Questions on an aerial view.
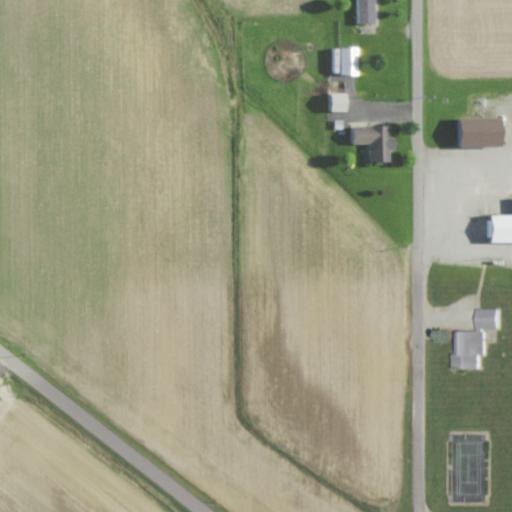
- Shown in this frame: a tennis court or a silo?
tennis court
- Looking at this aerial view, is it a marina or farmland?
farmland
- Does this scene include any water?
No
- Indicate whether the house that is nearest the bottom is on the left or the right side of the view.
right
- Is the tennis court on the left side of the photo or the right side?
right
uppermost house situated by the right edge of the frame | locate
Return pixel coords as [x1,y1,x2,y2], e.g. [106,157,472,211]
[458,118,509,149]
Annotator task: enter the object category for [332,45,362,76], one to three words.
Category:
barn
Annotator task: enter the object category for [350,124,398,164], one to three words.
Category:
house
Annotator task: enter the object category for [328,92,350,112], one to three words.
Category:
building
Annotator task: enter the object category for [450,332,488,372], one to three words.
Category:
house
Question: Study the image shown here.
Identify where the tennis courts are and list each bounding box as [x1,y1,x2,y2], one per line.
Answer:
[447,431,491,506]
